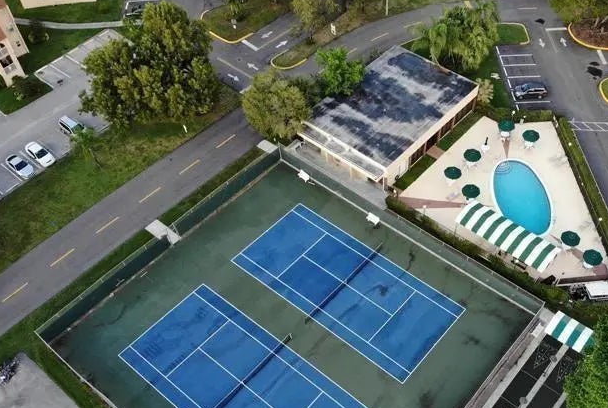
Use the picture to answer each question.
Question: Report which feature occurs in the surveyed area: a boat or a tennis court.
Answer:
tennis court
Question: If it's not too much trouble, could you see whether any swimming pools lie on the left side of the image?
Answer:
No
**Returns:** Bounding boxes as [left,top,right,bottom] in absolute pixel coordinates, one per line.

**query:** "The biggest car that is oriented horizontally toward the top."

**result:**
[513,82,549,100]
